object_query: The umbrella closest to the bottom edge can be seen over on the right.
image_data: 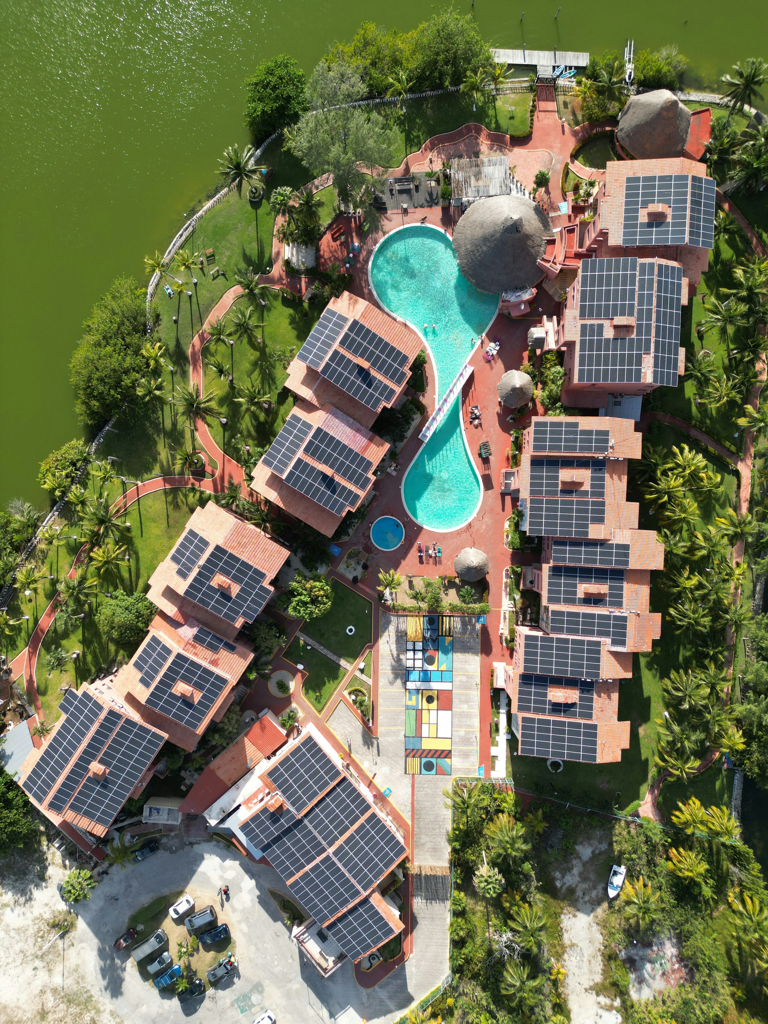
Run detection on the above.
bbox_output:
[453,547,489,584]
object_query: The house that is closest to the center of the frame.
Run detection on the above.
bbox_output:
[250,399,390,538]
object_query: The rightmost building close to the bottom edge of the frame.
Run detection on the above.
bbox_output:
[213,708,410,977]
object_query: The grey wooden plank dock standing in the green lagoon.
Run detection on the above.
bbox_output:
[491,49,589,80]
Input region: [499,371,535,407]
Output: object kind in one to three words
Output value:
umbrella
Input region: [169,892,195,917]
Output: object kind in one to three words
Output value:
car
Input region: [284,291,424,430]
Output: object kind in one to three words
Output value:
house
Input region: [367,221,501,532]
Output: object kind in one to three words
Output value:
swimming pool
